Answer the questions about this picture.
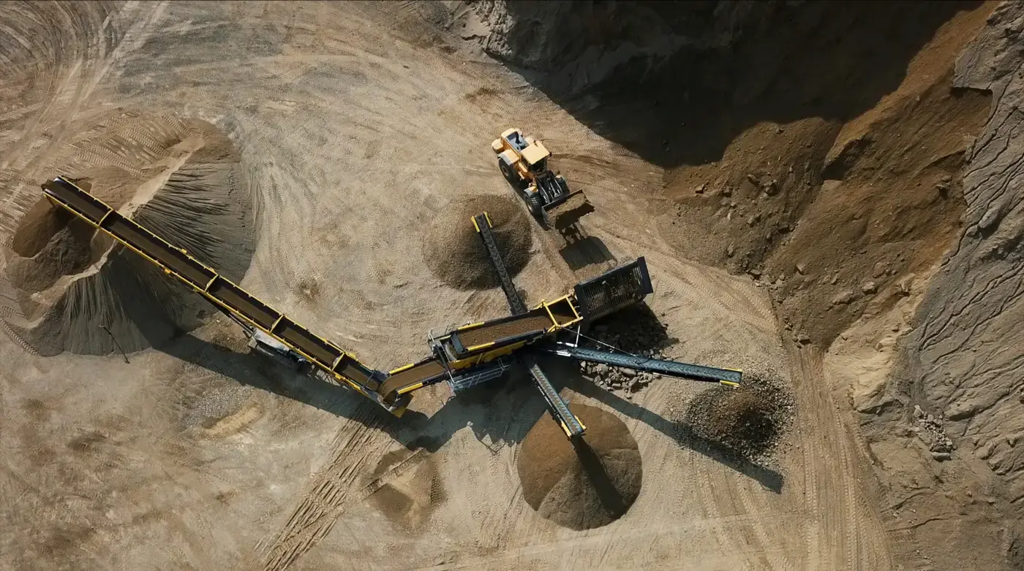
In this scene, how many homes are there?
none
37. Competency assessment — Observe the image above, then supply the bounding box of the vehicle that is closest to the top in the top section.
[492,125,590,235]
